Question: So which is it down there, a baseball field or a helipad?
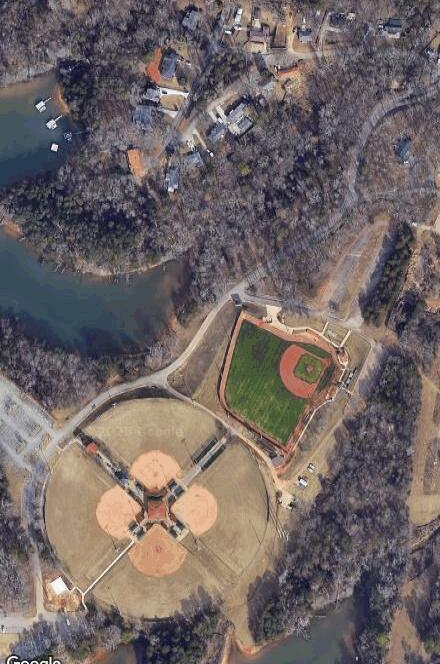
baseball field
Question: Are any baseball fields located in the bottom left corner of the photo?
Yes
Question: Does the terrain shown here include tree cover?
Yes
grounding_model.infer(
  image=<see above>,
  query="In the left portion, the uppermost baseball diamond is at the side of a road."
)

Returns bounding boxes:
[83,394,232,493]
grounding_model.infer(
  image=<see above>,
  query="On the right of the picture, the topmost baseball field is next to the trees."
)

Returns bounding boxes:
[218,311,342,451]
